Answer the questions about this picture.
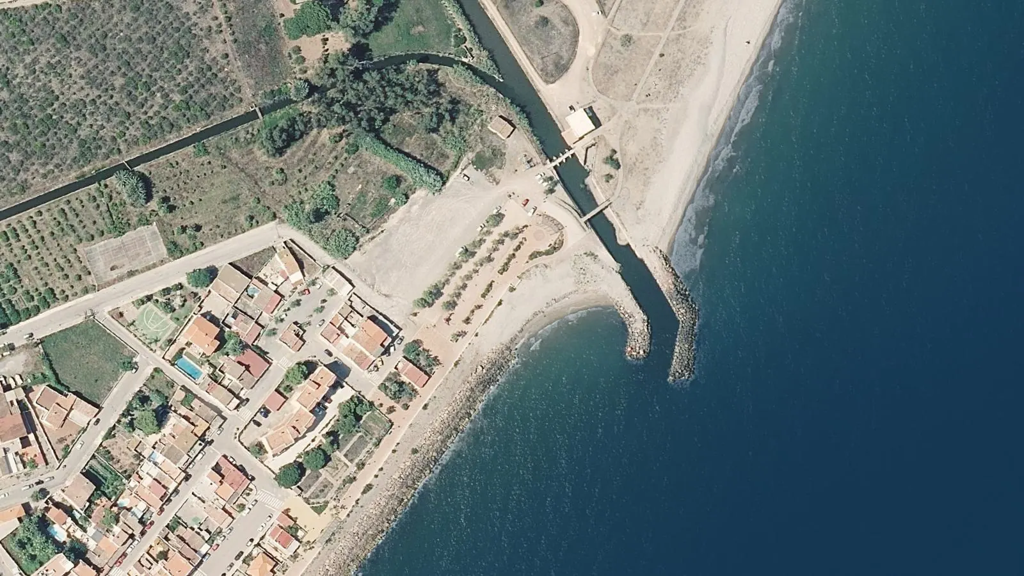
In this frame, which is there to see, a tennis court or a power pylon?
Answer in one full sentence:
I can see a tennis court in this picture.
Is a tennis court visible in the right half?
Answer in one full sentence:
No, looking in the right half, there is no tennis court.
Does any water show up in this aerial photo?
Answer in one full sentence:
Yes, the picture does contain water.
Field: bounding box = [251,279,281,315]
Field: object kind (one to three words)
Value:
house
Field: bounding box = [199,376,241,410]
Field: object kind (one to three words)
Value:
house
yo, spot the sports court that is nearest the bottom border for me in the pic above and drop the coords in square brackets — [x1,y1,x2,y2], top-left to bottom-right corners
[134,303,177,347]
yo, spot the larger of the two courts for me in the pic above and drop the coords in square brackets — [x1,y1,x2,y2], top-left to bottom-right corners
[85,224,166,285]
